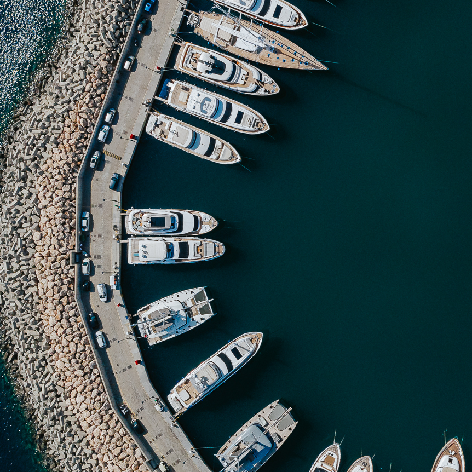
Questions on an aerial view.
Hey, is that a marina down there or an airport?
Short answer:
marina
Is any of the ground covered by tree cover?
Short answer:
No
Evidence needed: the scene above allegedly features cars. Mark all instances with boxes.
[104,107,117,125]
[97,125,112,143]
[145,0,157,15]
[89,311,100,330]
[130,416,145,435]
[89,150,102,170]
[81,212,91,231]
[83,278,93,293]
[137,16,150,35]
[123,53,136,71]
[108,172,122,191]
[96,283,108,302]
[95,330,108,349]
[82,258,92,275]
